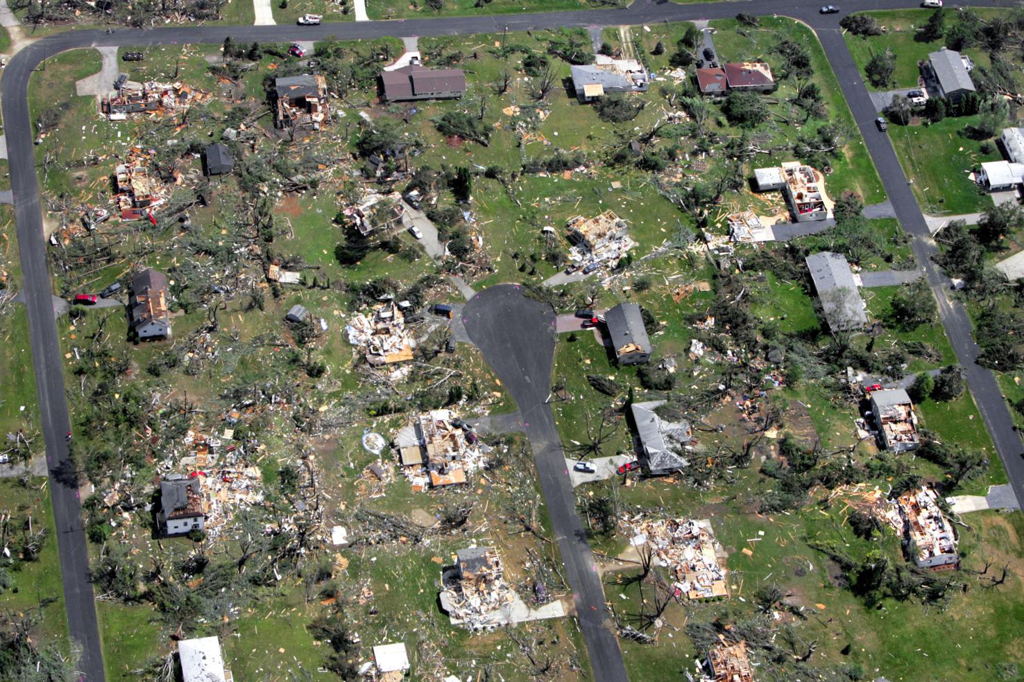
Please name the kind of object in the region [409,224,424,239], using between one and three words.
car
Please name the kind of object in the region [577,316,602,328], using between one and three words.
vehicle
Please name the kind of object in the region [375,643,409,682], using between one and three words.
shed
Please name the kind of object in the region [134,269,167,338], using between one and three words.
house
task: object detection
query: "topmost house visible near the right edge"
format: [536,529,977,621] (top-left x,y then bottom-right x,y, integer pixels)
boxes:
[928,45,976,100]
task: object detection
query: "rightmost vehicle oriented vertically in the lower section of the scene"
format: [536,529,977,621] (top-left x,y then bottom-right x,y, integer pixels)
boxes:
[534,579,546,599]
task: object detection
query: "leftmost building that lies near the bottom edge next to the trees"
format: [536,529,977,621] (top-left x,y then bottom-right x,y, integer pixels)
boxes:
[178,636,235,682]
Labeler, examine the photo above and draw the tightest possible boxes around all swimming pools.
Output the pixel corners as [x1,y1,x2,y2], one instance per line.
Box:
[362,432,385,453]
